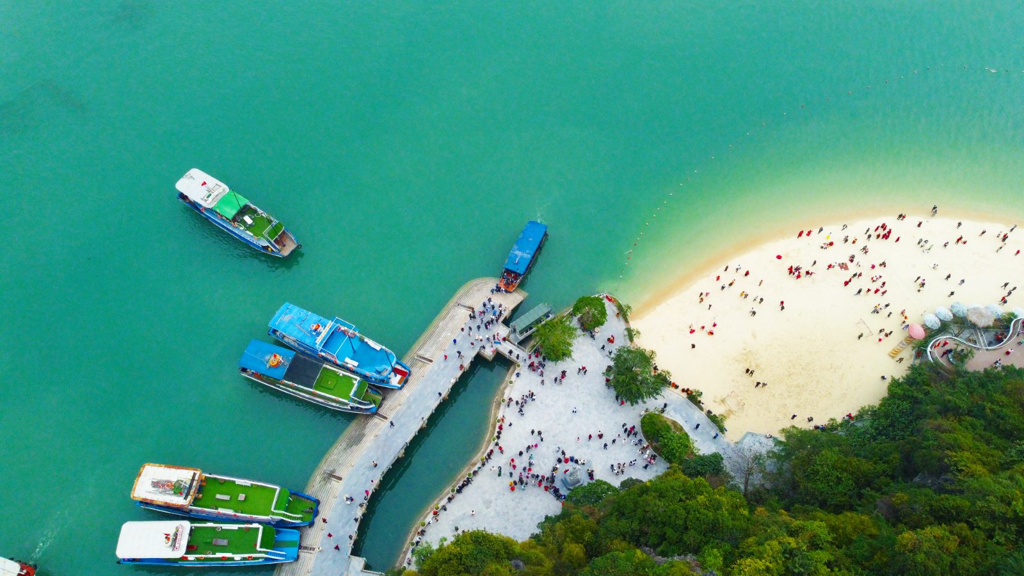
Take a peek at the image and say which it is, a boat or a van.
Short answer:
boat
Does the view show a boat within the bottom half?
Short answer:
Yes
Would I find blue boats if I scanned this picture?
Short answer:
Yes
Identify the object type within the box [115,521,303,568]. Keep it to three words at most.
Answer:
boat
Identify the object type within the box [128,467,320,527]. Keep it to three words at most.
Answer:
boat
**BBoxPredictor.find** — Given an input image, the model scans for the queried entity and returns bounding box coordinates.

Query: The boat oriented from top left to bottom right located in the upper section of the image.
[174,170,299,260]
